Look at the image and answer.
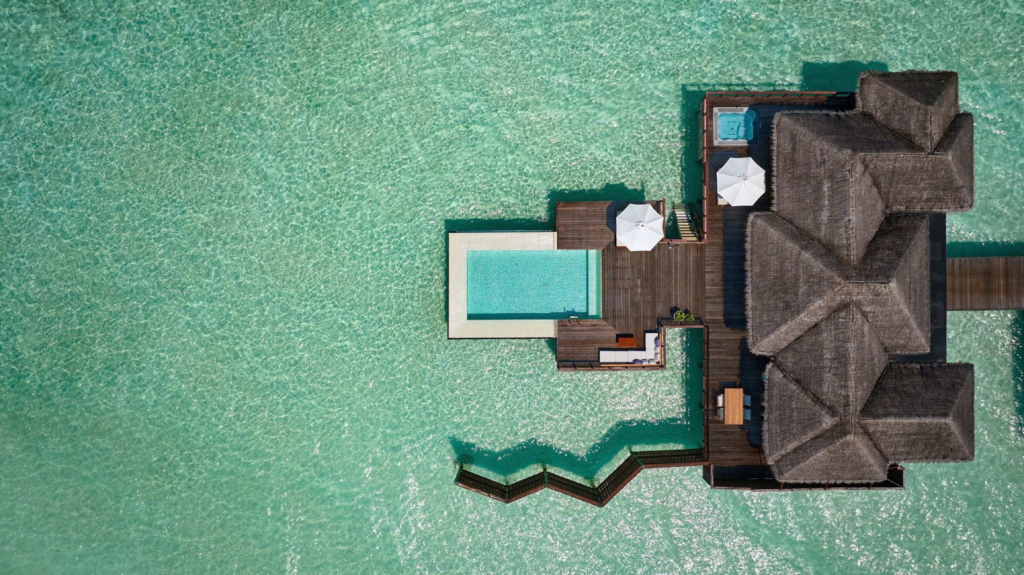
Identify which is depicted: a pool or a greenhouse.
pool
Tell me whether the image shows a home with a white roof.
No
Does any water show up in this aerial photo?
Yes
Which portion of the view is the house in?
right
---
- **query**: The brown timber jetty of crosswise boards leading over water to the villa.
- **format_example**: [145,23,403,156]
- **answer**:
[946,255,1024,310]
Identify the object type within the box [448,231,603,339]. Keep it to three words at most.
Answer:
swimming pool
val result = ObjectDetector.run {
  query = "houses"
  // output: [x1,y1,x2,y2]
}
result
[742,67,975,484]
